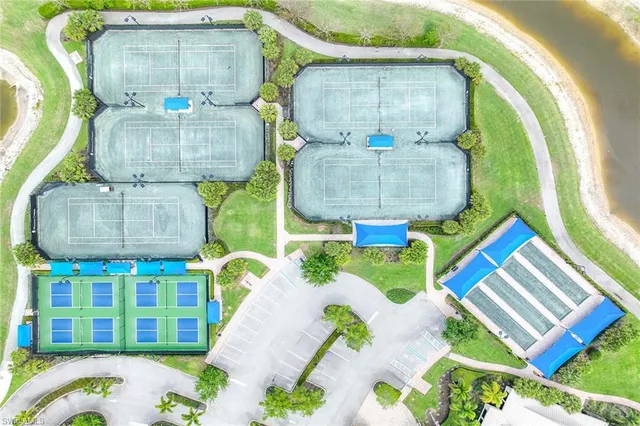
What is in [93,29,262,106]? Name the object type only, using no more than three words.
tennis court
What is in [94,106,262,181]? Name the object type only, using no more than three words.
tennis court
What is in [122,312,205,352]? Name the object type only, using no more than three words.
sports court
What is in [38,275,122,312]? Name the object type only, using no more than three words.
sports court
